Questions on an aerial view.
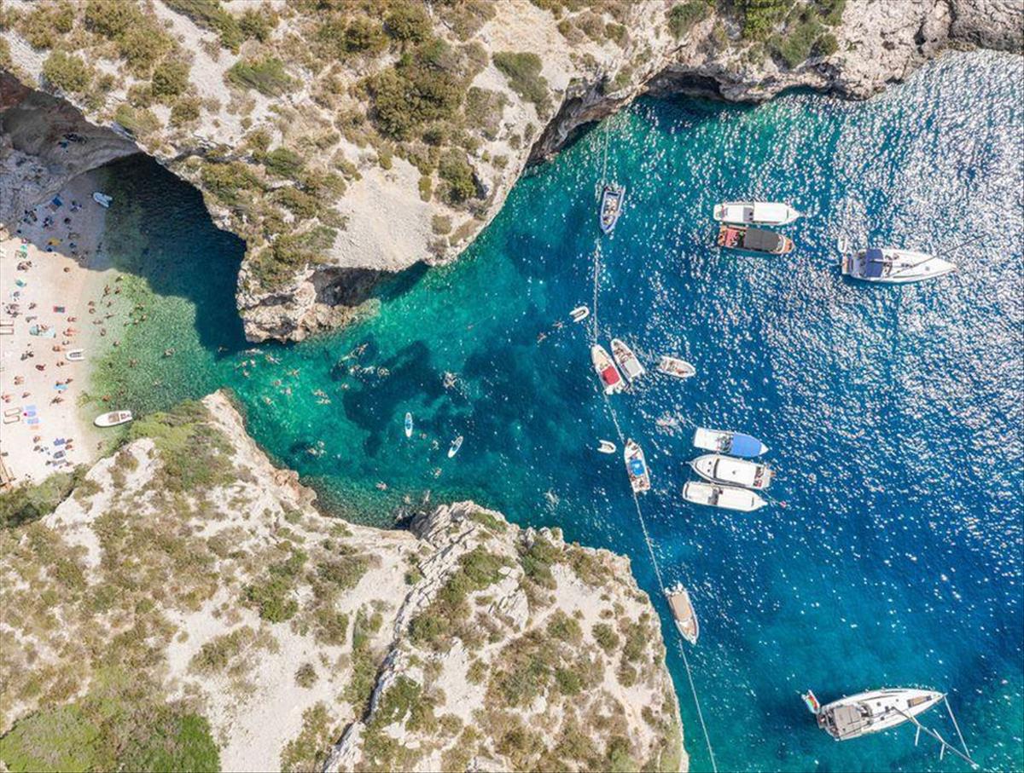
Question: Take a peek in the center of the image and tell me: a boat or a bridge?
boat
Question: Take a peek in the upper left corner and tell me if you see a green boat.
No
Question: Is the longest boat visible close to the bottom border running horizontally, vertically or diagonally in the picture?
horizontally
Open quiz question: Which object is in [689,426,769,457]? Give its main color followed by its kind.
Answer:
white boat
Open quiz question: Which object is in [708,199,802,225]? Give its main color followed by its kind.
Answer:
white boat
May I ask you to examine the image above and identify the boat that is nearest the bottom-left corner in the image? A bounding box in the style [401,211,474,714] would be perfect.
[94,408,138,425]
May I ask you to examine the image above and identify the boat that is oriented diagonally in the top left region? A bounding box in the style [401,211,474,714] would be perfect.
[93,190,116,209]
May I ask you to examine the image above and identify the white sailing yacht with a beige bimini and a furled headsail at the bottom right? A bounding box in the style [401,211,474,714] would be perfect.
[802,692,978,767]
